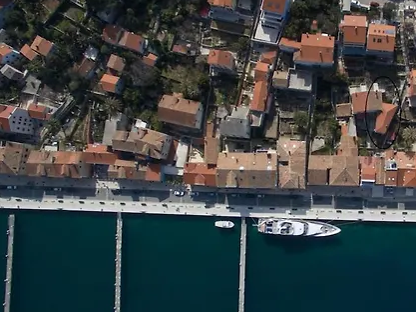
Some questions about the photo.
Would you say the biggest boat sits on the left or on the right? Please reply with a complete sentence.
It is on the right.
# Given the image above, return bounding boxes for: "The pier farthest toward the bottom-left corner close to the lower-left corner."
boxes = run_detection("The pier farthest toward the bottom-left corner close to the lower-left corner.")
[3,214,16,312]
